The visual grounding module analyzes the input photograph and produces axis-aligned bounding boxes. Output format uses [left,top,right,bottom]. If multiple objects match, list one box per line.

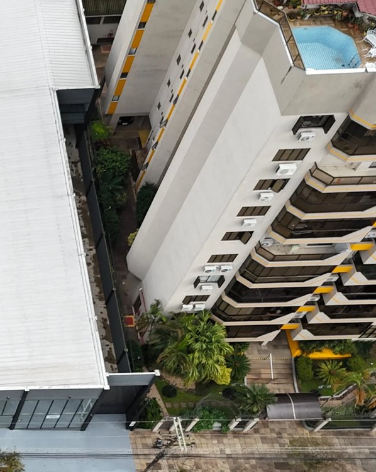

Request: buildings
[0,0,110,434]
[127,0,376,341]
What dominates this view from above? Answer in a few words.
buildings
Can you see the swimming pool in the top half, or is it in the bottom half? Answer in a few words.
top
